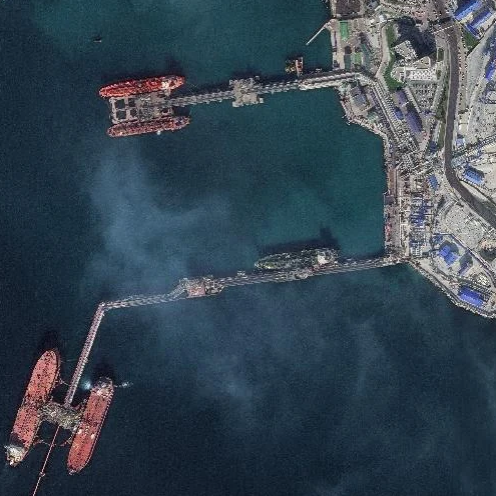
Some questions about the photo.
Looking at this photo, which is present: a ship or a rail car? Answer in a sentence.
Looking from above, you can make out a ship.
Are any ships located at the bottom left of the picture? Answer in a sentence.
Yes, a ship is visible at the bottom left of the picture.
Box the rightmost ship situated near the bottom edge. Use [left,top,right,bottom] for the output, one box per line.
[69,376,110,474]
